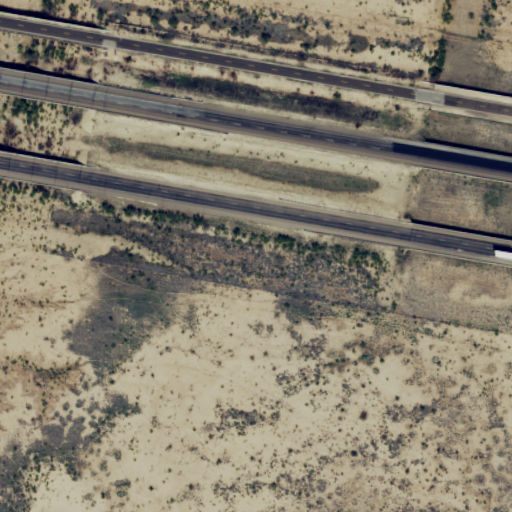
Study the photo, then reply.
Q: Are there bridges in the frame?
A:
Yes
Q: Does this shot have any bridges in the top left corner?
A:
Yes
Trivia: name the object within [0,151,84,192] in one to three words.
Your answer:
bridge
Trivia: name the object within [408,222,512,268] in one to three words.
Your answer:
bridge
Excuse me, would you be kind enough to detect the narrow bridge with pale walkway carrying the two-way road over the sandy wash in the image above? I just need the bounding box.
[0,12,104,49]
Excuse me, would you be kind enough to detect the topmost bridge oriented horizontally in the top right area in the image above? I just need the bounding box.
[430,84,512,126]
